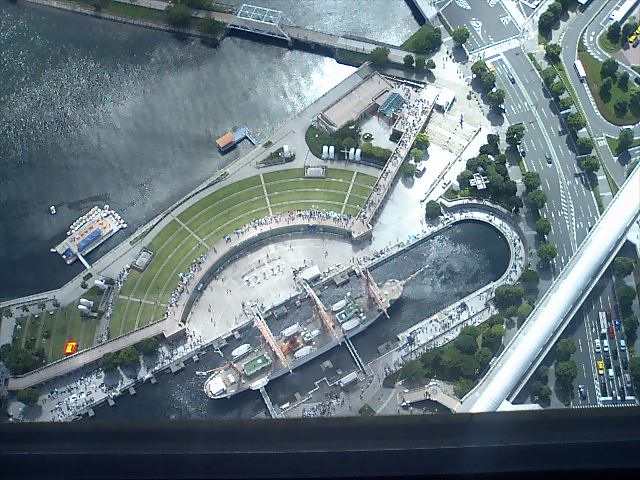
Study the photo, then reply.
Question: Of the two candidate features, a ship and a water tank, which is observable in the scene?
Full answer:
Of the two, only a ship appears.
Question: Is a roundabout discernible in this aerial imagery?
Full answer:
No, there isn't any roundabout down there.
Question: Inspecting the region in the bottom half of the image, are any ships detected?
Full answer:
Yes, I can see a ship in the bottom half of the image.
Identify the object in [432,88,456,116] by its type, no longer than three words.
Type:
building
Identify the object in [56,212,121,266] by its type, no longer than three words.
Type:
pier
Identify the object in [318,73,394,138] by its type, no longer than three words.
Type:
building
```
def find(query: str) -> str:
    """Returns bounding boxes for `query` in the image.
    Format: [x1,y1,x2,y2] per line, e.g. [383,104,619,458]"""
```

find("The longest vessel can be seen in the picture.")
[167,249,435,419]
